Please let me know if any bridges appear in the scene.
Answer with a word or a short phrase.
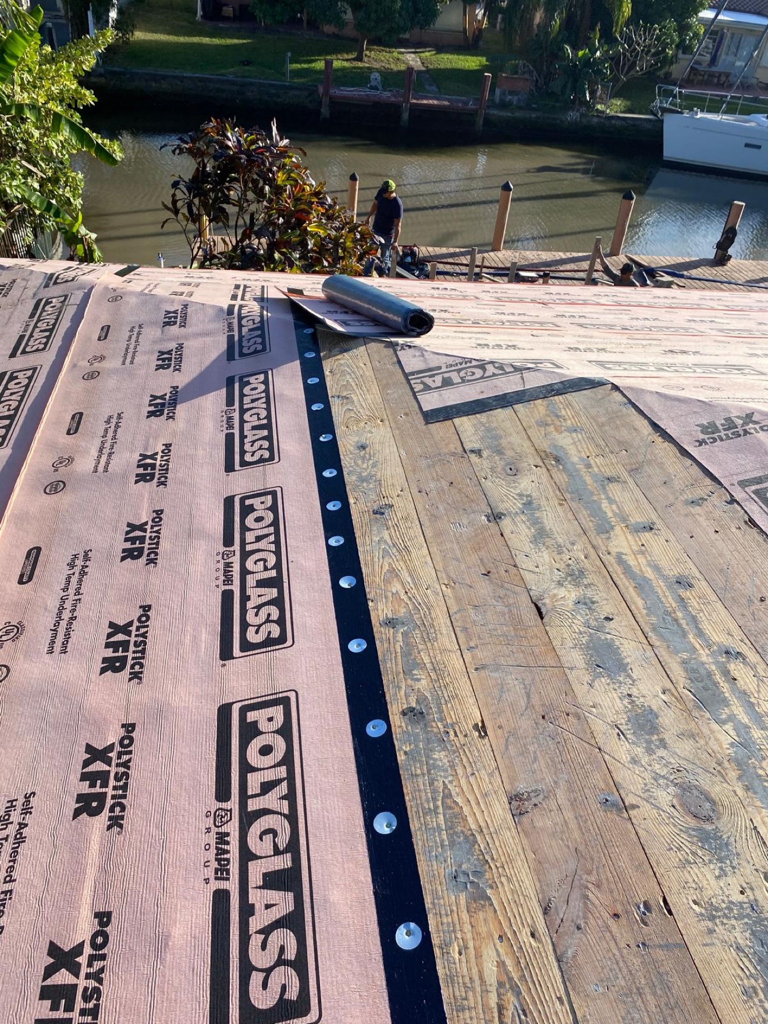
No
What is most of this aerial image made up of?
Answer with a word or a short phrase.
buildings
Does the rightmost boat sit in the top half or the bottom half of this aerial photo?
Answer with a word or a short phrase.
top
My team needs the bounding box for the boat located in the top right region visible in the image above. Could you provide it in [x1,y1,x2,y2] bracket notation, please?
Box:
[641,0,768,175]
